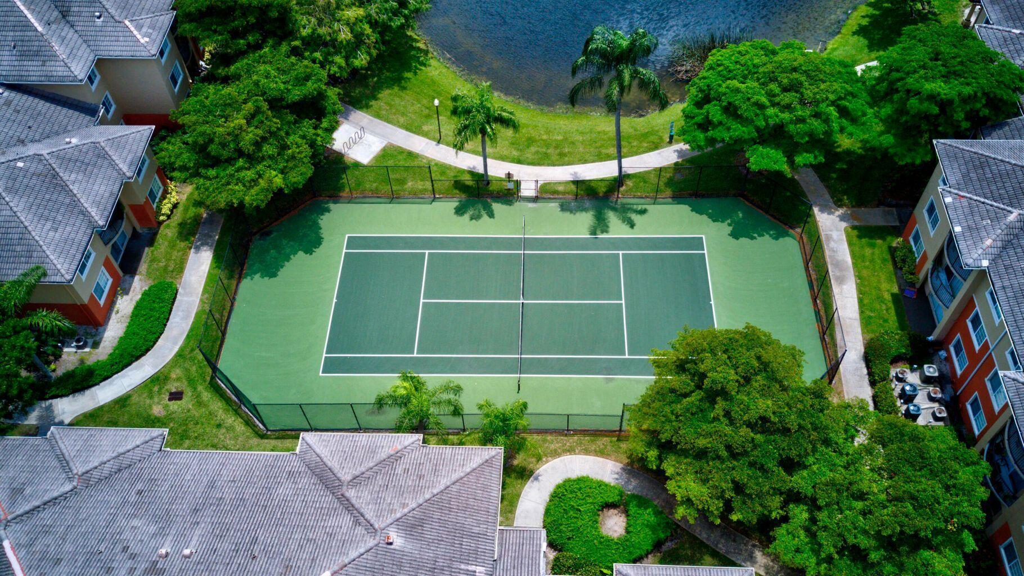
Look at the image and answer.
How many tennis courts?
1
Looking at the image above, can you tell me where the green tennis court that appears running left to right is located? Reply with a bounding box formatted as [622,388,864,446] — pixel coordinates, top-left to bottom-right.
[220,198,828,431]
